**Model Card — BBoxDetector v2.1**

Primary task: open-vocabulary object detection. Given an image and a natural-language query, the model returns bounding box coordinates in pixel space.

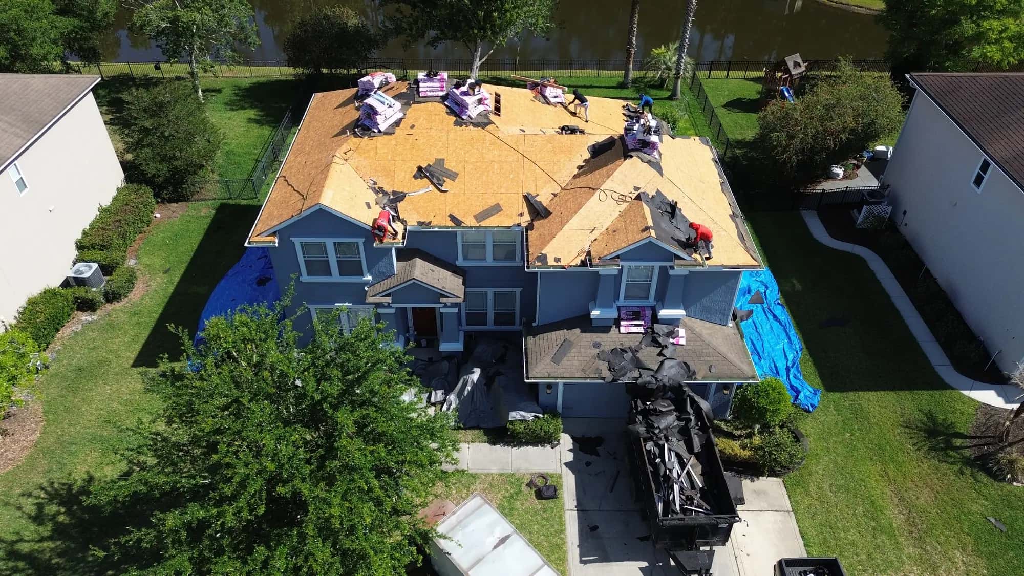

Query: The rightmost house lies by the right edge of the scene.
[876,77,1024,386]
